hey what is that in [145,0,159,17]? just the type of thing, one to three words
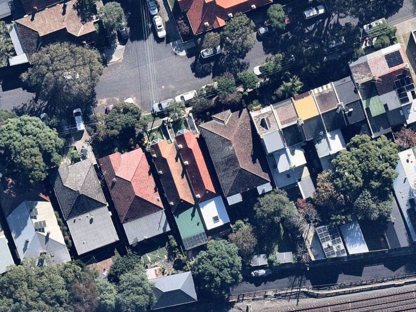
vehicle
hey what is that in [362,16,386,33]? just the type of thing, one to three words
car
